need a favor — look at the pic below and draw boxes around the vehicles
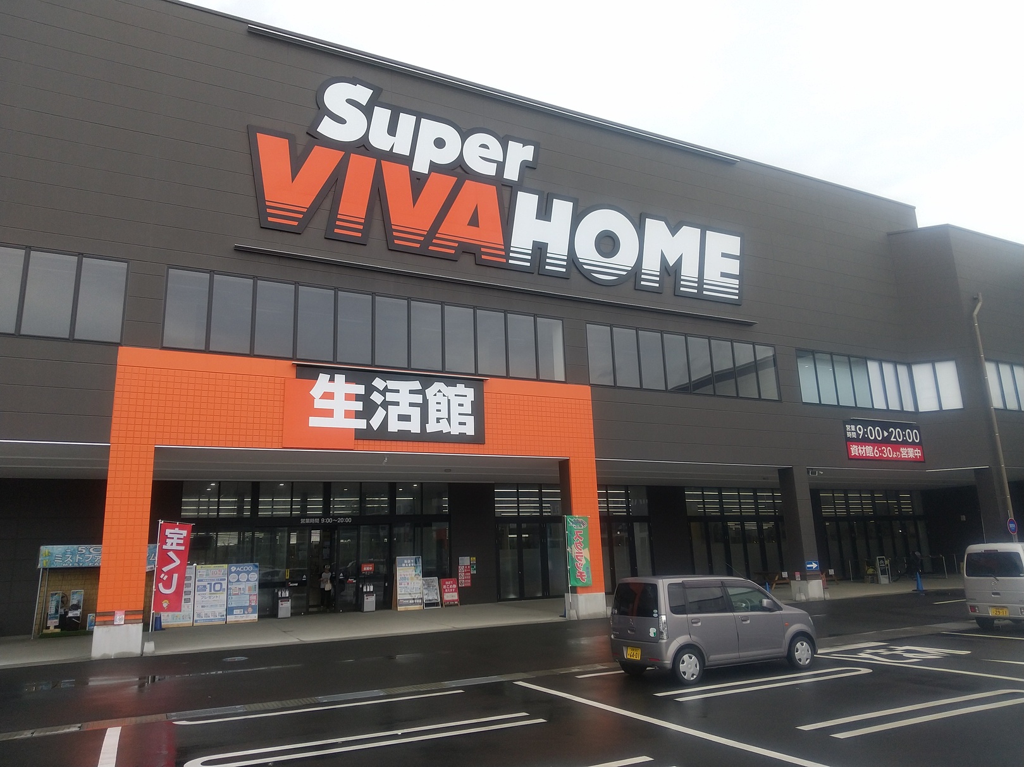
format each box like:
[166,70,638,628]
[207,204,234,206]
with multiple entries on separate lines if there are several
[966,522,1024,629]
[608,557,816,685]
